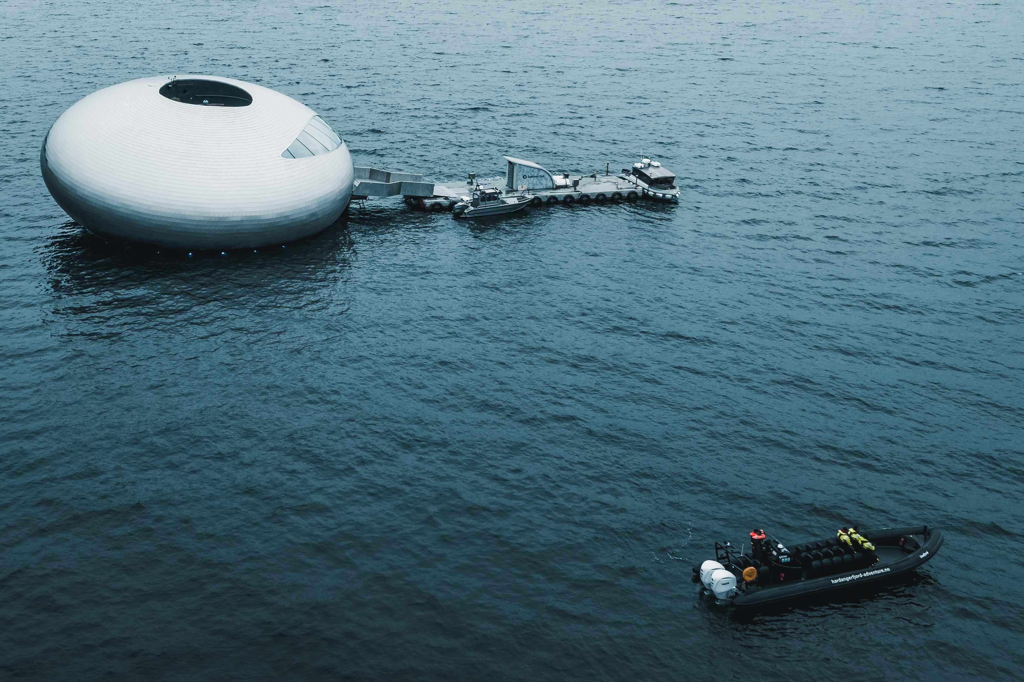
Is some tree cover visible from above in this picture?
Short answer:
No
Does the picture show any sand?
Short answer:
No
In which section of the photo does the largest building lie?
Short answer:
top left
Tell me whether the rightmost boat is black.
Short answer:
Yes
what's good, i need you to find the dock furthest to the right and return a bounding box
[416,174,642,213]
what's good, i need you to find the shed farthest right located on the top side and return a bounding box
[503,153,556,189]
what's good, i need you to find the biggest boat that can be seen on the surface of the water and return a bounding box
[697,526,940,605]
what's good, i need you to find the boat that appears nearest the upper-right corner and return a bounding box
[618,155,681,198]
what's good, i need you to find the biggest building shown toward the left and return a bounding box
[41,76,354,254]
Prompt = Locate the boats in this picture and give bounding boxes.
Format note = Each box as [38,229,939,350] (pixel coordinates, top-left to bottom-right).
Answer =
[697,526,940,605]
[452,177,535,218]
[618,155,681,198]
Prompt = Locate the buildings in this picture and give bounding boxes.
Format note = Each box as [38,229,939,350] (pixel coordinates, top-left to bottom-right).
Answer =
[41,76,354,254]
[503,153,556,189]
